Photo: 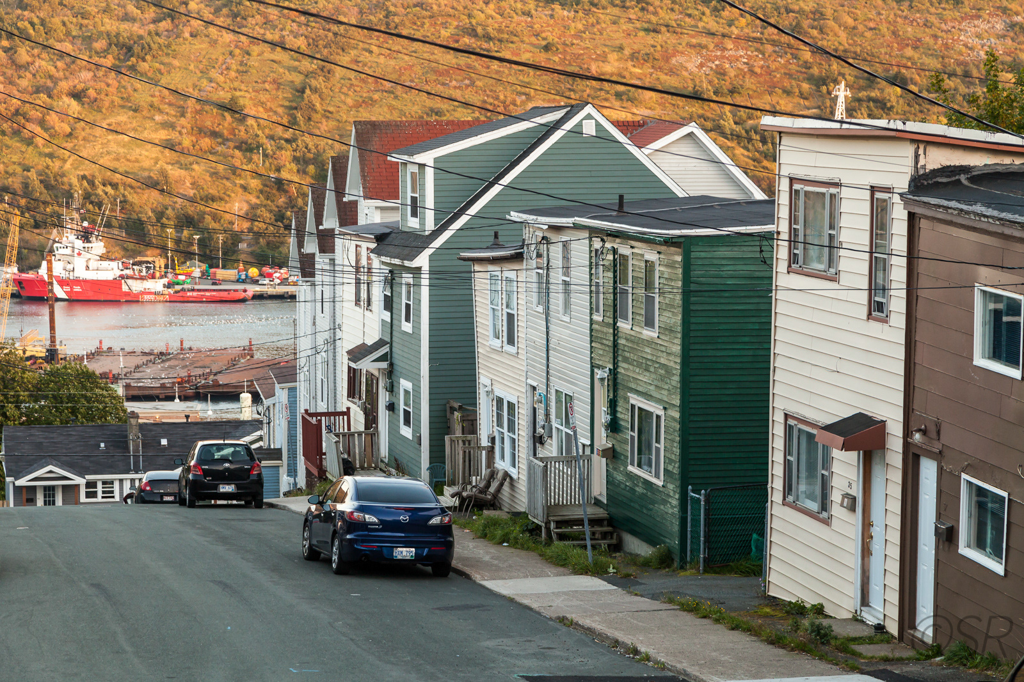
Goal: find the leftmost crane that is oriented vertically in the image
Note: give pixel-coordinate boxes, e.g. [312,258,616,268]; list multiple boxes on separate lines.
[0,192,24,360]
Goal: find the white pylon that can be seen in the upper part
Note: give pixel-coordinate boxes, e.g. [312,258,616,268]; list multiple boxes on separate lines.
[832,80,851,117]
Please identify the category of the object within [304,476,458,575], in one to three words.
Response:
car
